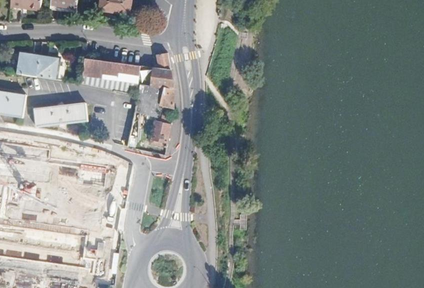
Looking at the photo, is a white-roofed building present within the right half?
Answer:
No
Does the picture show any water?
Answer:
Yes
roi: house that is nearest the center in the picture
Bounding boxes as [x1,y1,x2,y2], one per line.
[151,120,172,141]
